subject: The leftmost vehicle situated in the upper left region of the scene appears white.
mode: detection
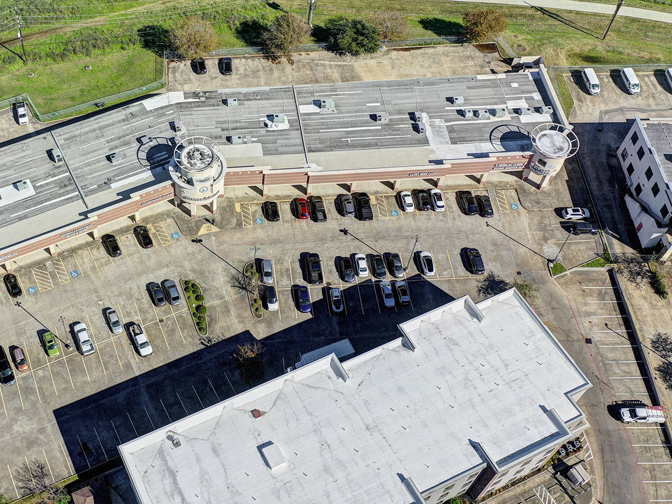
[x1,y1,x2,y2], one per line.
[13,100,29,125]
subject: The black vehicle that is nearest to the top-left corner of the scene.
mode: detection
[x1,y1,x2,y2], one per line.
[194,58,208,78]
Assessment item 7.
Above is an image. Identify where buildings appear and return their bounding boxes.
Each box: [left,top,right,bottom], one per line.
[0,64,578,270]
[614,116,672,260]
[72,487,113,504]
[118,288,592,504]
